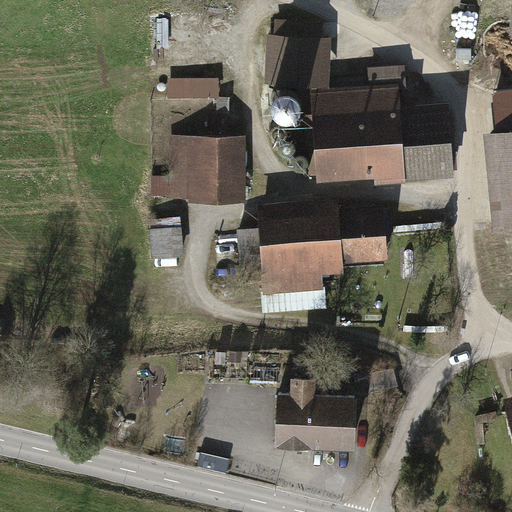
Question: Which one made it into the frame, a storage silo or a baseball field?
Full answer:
Of the two, only a storage silo appears.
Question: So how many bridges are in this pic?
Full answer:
The picture shows no bridges.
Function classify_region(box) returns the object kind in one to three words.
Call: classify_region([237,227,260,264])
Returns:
shed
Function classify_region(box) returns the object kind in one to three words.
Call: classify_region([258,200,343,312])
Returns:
house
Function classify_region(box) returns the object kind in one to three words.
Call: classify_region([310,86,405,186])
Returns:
barn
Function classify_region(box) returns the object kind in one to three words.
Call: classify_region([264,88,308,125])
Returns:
silo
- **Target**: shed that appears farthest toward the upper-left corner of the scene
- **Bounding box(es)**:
[166,78,218,99]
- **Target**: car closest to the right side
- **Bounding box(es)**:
[448,350,471,364]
